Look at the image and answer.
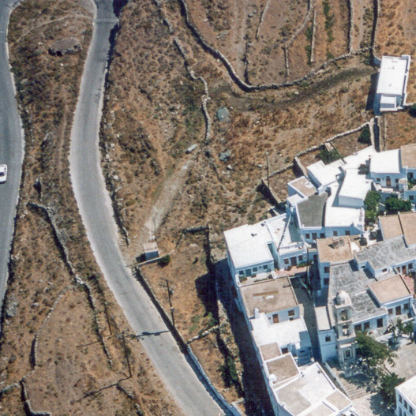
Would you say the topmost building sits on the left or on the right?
left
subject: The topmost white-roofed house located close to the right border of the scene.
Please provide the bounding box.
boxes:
[377,55,411,110]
